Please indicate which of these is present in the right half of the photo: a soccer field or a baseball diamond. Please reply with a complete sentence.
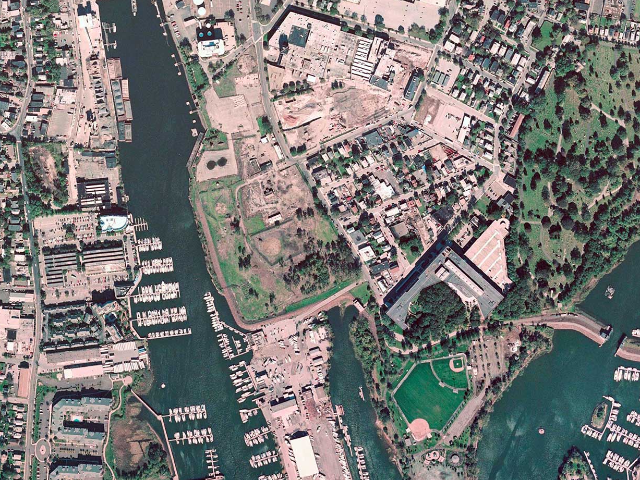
The one visible in the right half of the photo is a baseball diamond.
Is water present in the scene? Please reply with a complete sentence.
Yes, water can be seen from above here.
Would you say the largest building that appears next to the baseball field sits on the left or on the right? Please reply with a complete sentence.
You can find the largest building that appears next to the baseball field on the right side of the picture.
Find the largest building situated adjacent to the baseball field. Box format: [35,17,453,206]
[391,246,505,331]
